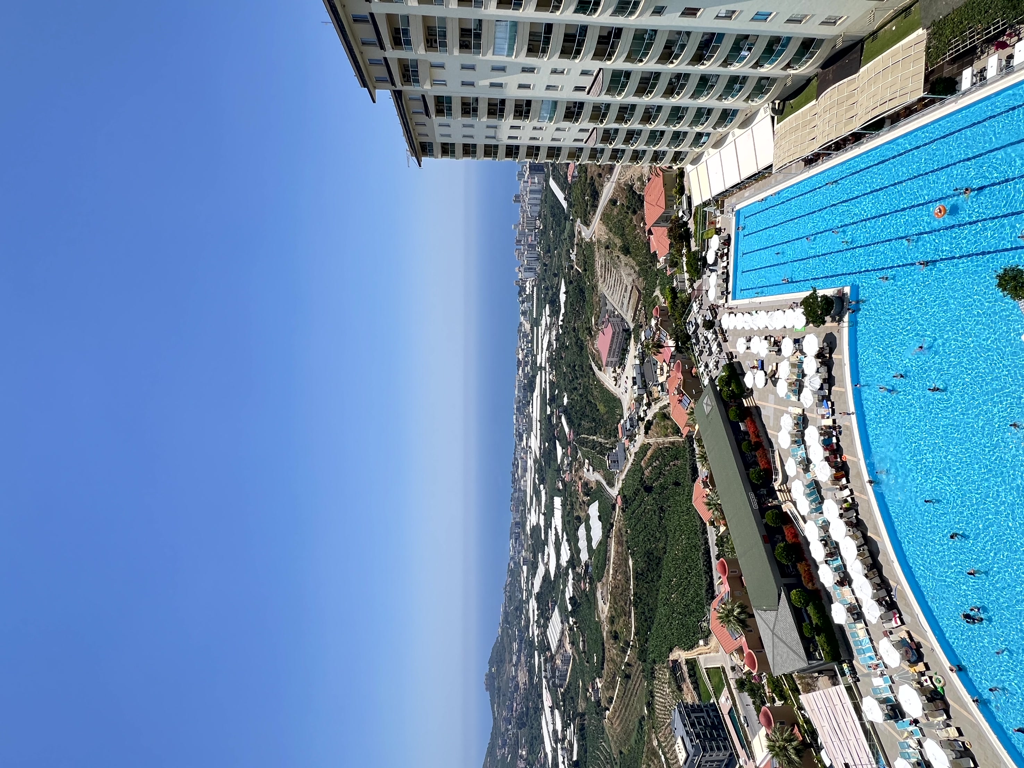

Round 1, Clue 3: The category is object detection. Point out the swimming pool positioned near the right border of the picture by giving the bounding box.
[733,79,1024,768]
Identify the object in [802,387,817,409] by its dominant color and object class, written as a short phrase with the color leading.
white umbrella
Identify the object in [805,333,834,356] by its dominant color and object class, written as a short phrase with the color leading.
white umbrella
